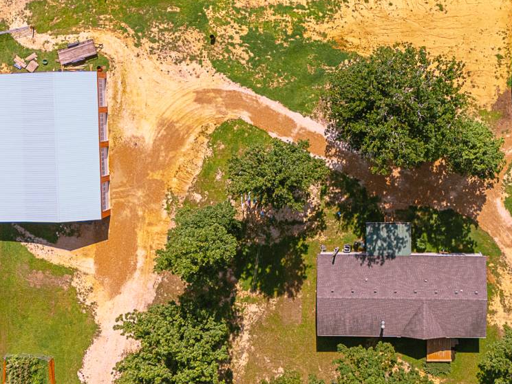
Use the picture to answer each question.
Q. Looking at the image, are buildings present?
Yes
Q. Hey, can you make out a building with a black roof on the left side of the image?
No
